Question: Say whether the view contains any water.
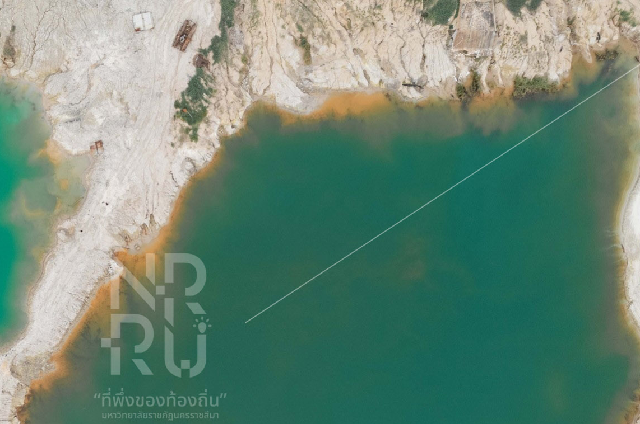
Yes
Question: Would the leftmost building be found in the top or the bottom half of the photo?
top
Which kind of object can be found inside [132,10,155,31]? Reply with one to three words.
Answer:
building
